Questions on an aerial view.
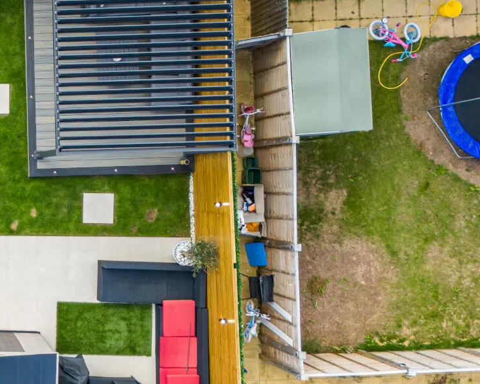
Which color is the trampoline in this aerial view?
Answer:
blue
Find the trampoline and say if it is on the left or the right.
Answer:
right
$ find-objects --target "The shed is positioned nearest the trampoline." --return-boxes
[291,28,373,137]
